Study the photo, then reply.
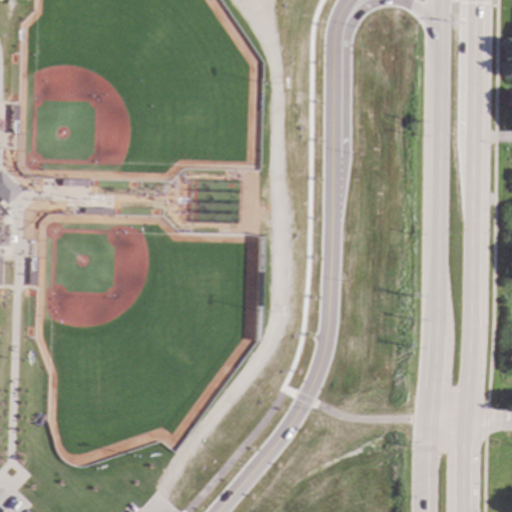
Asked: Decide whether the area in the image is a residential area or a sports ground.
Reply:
sports ground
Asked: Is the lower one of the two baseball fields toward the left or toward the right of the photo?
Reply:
left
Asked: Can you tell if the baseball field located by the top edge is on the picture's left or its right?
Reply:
left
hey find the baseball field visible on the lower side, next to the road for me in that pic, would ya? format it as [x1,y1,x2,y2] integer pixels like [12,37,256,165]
[38,212,262,467]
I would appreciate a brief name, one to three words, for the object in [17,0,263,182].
baseball field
